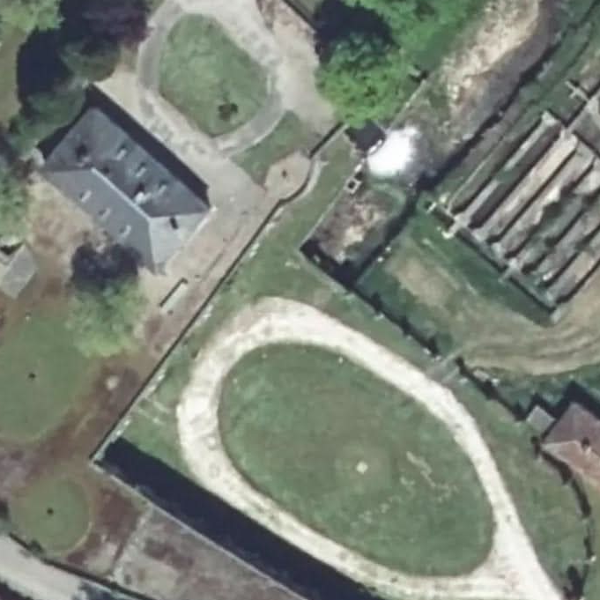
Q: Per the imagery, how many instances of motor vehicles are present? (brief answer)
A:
none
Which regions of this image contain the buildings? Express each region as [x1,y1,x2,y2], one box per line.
[41,105,213,269]
[527,408,558,435]
[0,240,35,298]
[541,402,600,488]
